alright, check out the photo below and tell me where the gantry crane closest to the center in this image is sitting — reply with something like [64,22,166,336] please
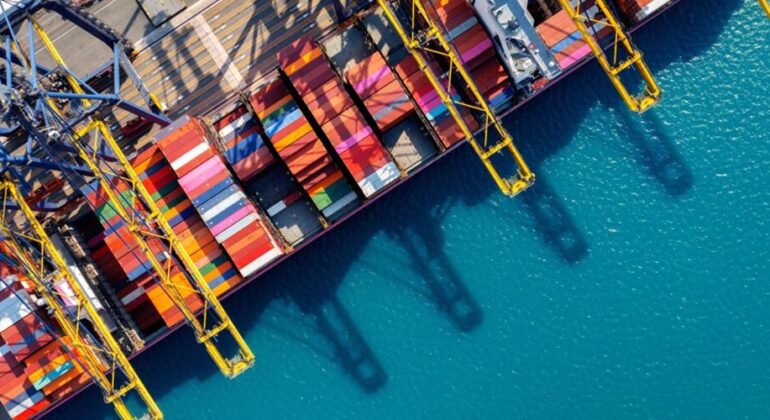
[326,0,541,201]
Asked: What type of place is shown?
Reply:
port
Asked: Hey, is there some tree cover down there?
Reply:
No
